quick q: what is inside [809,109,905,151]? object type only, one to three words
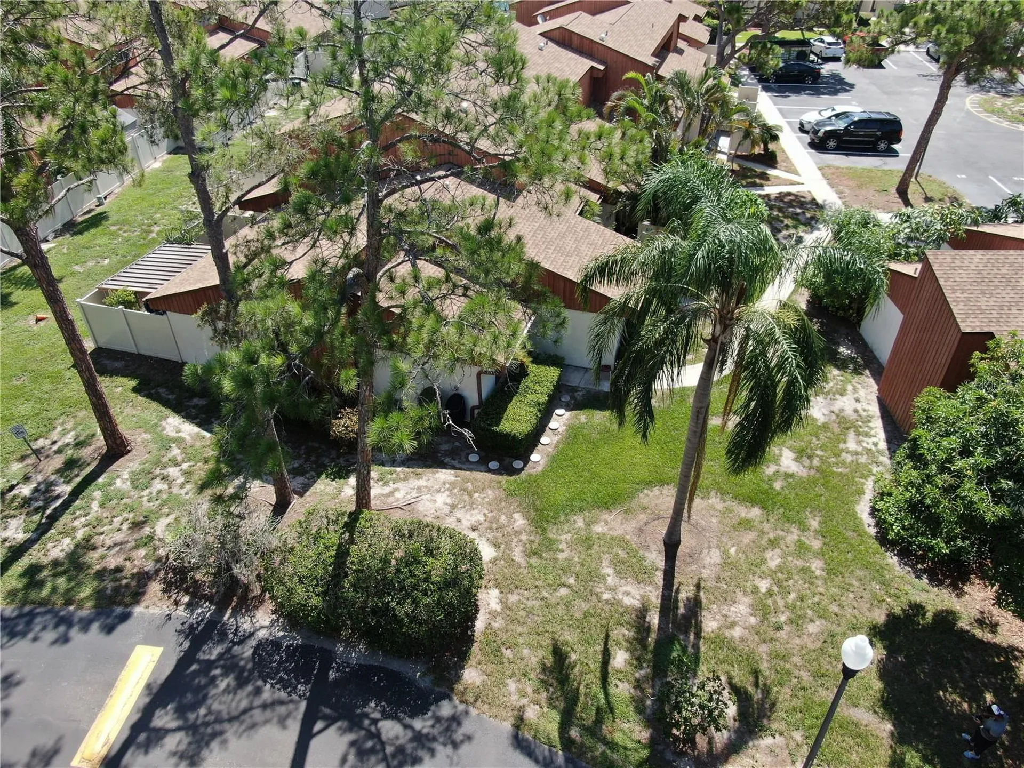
car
